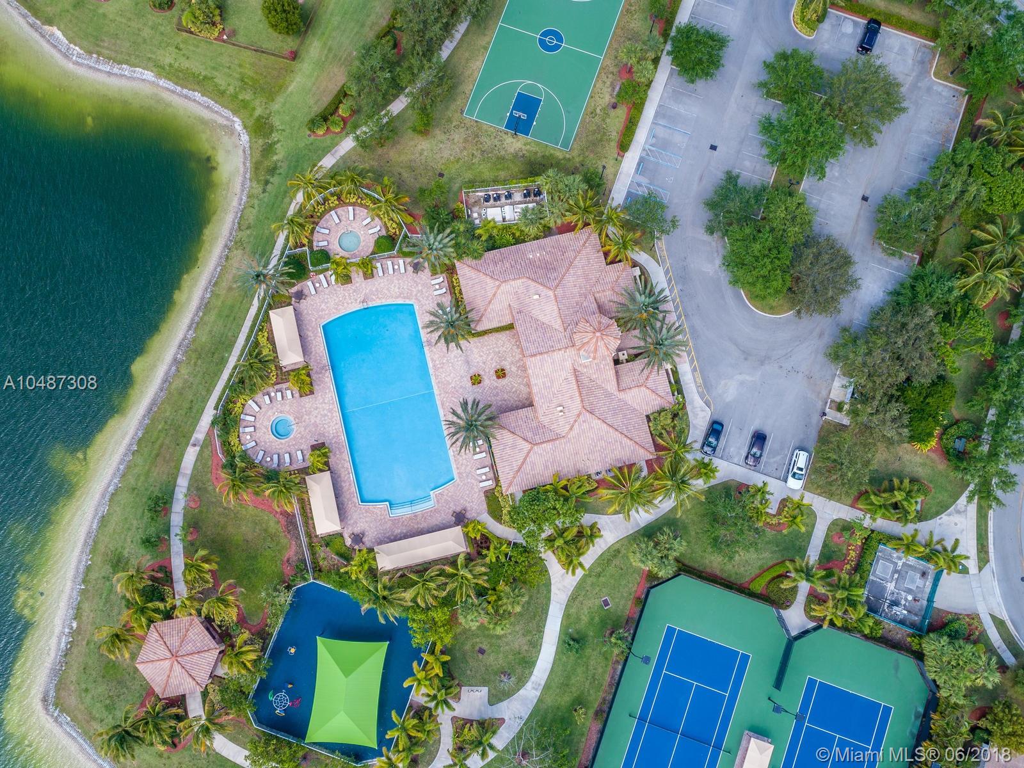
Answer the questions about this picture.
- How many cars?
4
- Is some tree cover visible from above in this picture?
Yes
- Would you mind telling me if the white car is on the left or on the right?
right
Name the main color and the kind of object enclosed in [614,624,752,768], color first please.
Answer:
blue tennis court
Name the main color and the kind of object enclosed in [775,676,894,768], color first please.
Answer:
blue tennis court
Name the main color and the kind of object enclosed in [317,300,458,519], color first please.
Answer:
blue swimming pool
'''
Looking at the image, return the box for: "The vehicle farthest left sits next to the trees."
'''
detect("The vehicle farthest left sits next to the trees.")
[701,418,725,457]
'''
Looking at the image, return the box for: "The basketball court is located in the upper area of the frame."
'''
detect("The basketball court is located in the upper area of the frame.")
[464,0,625,153]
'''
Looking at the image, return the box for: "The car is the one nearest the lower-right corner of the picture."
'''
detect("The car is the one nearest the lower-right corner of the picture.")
[784,448,811,490]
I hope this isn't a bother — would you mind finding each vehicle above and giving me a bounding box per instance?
[784,448,811,490]
[743,429,768,468]
[854,18,881,58]
[701,418,725,457]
